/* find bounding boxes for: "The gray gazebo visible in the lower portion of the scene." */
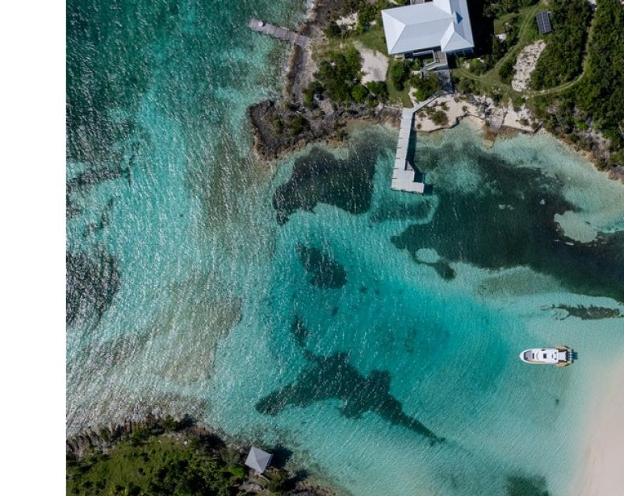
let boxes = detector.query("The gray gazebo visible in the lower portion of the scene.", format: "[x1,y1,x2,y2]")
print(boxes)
[245,446,277,481]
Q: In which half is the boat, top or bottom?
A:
bottom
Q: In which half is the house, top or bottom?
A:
top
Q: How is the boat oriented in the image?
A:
from left to right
